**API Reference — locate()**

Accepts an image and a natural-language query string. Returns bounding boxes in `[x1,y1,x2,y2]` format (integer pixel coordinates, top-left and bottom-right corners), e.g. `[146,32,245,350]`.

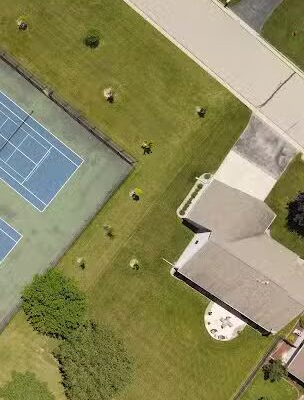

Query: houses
[170,177,304,333]
[285,337,304,380]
